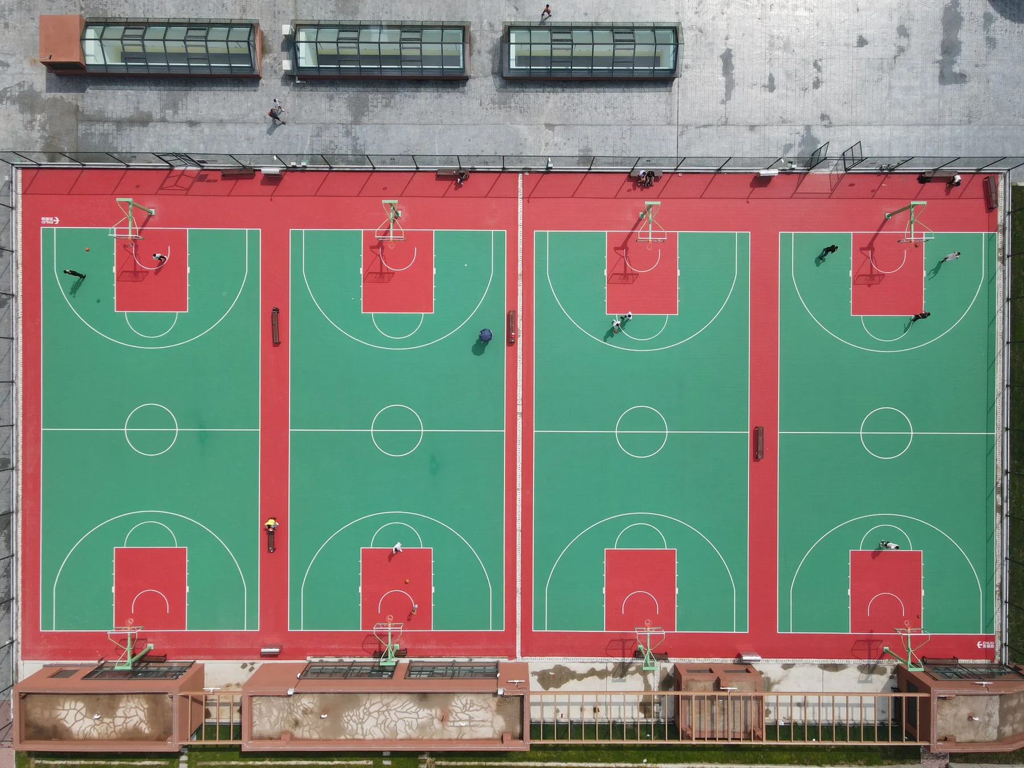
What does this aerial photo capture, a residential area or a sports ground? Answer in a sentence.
What you see here is a sports ground.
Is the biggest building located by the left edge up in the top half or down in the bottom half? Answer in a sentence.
Seen from above, the biggest building located by the left edge lies in the bottom half of the view.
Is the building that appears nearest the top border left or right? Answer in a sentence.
The building that appears nearest the top border sits on the left side.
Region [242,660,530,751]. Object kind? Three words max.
building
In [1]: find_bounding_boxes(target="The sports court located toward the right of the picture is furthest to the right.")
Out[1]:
[521,173,999,659]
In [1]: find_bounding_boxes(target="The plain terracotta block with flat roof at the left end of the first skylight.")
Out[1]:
[40,15,89,73]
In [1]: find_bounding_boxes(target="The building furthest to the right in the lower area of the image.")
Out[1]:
[899,655,1024,753]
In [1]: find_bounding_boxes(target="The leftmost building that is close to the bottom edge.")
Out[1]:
[13,661,203,751]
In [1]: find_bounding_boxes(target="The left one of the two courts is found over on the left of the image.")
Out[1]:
[22,169,518,660]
